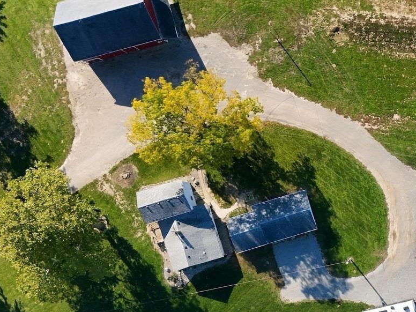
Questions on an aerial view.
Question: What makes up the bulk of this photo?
grass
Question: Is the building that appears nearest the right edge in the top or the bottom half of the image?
bottom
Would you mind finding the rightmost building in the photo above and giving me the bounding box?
[228,190,317,253]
